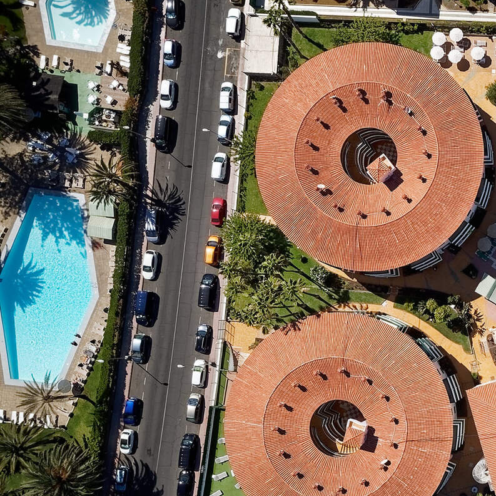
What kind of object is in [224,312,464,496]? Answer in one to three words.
building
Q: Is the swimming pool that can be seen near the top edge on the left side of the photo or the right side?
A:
left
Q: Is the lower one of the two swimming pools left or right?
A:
left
